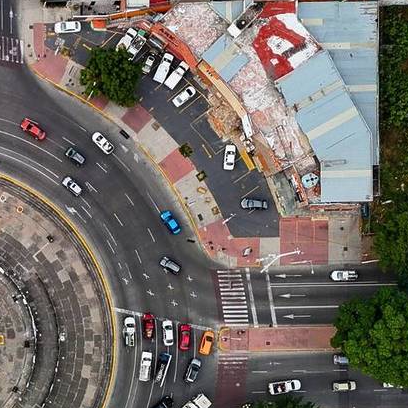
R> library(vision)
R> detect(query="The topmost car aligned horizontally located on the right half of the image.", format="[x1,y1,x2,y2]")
[242,197,268,209]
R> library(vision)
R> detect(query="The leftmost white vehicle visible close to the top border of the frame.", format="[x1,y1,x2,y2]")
[55,19,81,32]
